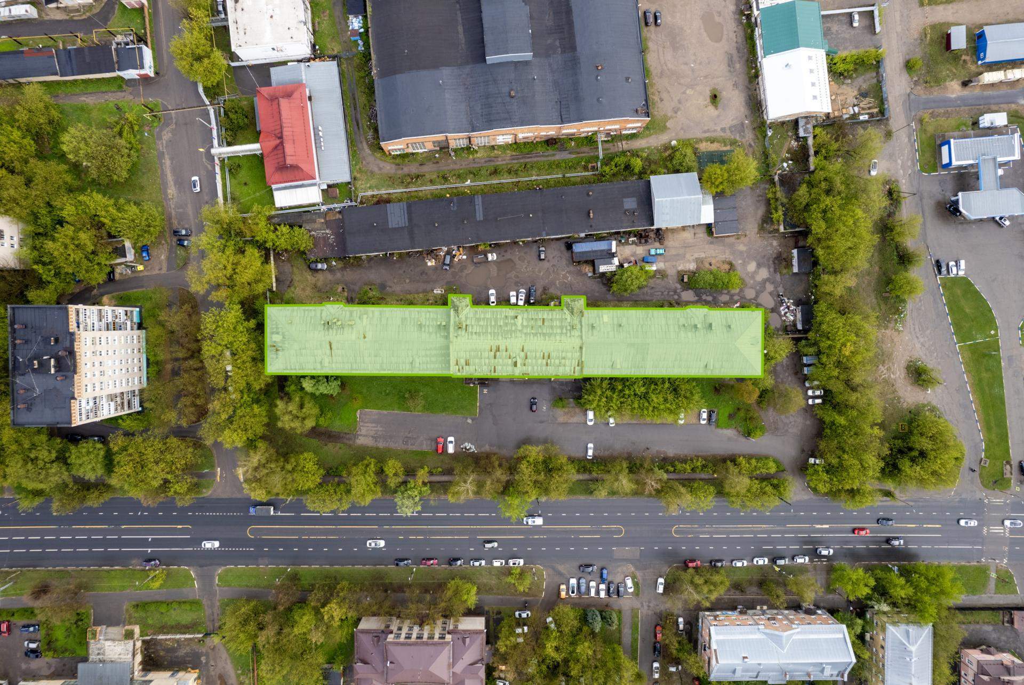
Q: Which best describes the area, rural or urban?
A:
urban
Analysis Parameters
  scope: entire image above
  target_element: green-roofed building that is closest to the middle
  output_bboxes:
[263,293,766,380]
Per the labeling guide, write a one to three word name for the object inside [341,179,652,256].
shed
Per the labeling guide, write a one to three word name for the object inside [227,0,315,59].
building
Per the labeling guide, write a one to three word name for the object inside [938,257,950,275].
vehicle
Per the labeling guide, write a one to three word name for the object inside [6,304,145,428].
building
